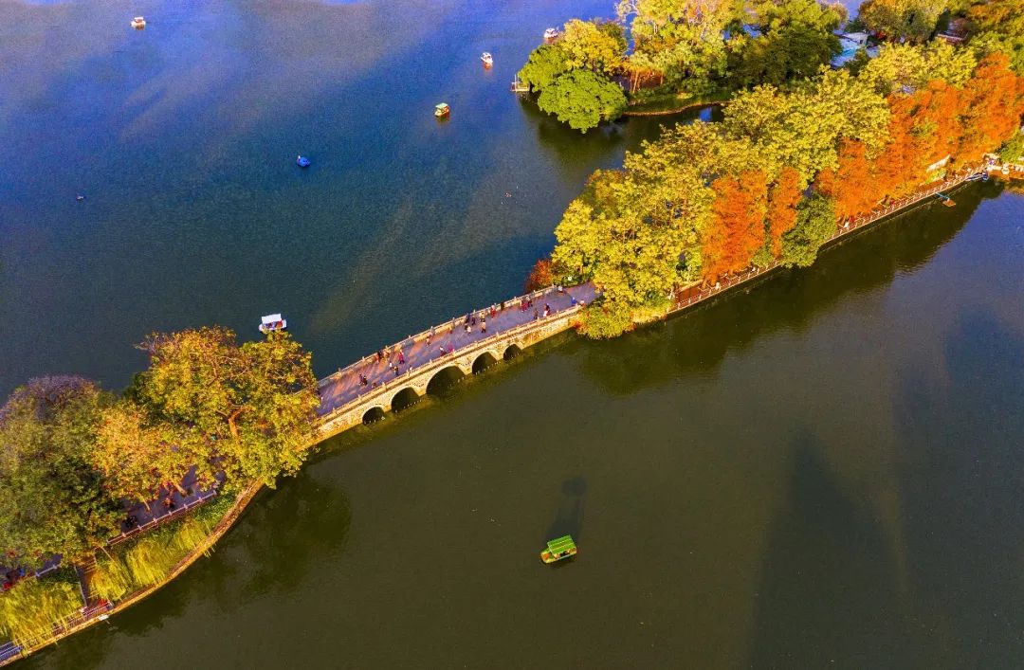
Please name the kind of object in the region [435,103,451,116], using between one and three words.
boat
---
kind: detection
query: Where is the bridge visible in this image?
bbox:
[291,283,577,445]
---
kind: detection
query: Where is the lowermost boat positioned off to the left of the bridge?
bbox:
[258,312,287,334]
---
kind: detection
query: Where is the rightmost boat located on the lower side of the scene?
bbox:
[543,532,579,564]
